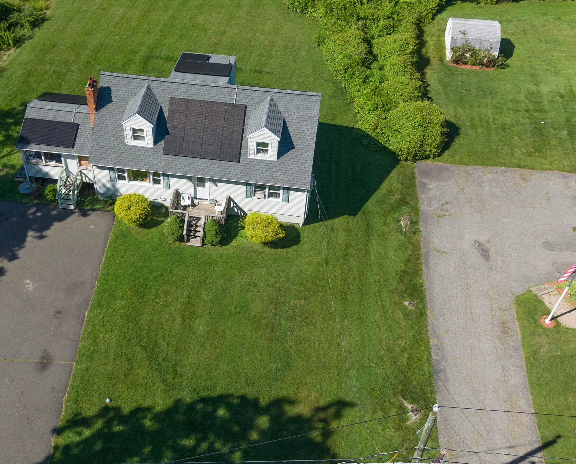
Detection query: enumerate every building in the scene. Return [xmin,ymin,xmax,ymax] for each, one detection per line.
[16,54,321,229]
[444,16,505,62]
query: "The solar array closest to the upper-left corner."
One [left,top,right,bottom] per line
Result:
[34,90,86,103]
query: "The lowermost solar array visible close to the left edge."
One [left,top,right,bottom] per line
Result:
[18,117,78,147]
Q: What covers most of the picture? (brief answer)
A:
grass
